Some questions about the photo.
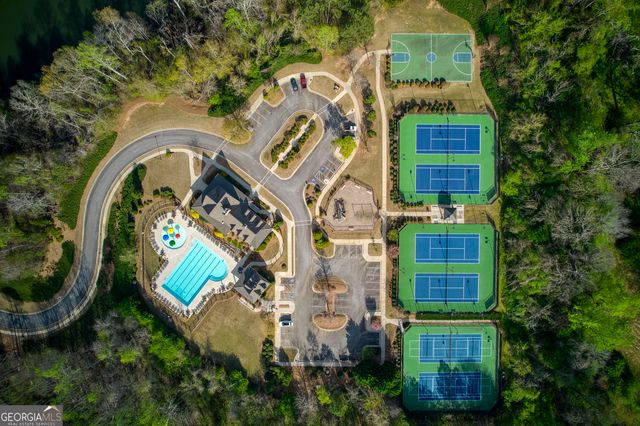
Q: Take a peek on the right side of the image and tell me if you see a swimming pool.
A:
No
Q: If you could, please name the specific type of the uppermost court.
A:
basketball court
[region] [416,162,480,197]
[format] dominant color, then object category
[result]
blue tennis court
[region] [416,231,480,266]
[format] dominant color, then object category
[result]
blue tennis court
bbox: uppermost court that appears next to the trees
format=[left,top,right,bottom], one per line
[391,34,471,82]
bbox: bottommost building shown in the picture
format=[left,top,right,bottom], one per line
[229,268,271,307]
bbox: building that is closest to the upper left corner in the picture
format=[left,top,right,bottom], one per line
[190,174,273,250]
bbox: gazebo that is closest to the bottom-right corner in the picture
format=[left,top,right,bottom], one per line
[441,206,457,220]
